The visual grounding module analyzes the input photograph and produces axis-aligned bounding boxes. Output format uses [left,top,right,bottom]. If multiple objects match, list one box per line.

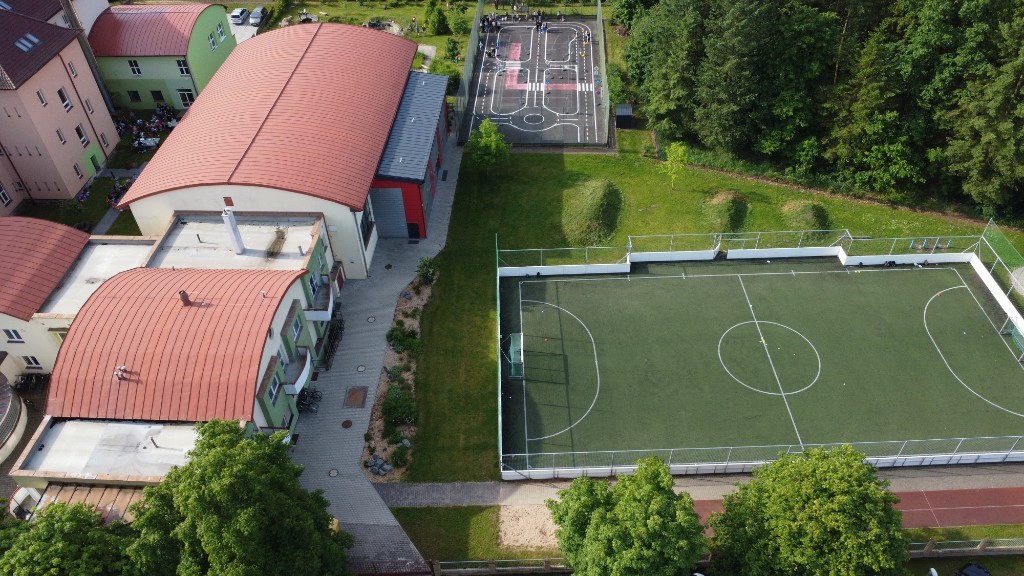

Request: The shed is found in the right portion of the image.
[621,95,640,128]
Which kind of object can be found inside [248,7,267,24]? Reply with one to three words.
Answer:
car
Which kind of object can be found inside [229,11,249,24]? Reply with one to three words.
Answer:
vehicle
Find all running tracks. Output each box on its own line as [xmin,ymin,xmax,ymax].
[881,487,1024,532]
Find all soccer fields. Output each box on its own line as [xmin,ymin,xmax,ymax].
[499,255,1024,470]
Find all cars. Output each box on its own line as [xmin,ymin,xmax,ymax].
[229,11,249,24]
[248,7,267,24]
